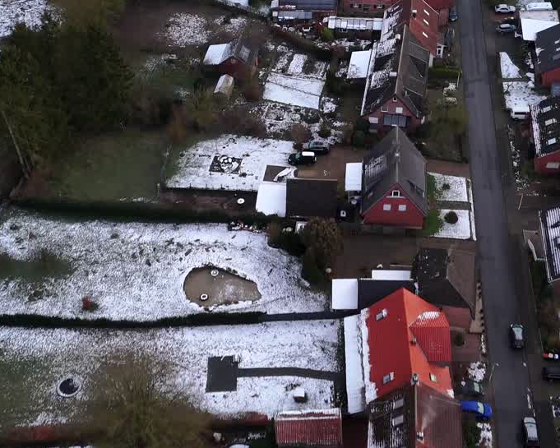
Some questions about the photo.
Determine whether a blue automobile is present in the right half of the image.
Yes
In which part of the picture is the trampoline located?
bottom left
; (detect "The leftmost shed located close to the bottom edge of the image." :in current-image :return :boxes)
[276,405,343,448]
